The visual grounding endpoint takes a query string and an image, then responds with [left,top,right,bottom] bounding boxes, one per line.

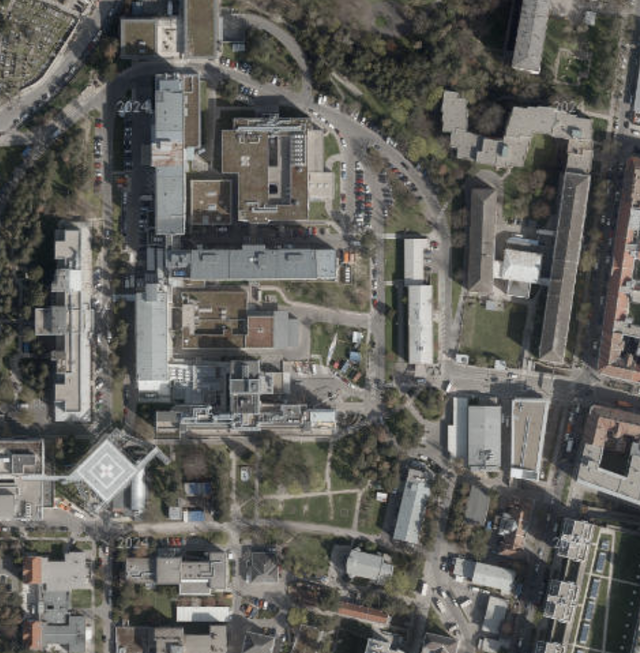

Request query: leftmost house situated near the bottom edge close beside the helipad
[21,551,93,653]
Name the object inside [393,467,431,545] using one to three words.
house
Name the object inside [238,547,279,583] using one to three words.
house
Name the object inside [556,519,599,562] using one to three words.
building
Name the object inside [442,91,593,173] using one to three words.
building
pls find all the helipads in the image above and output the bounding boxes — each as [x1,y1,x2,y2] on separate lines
[64,428,171,514]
